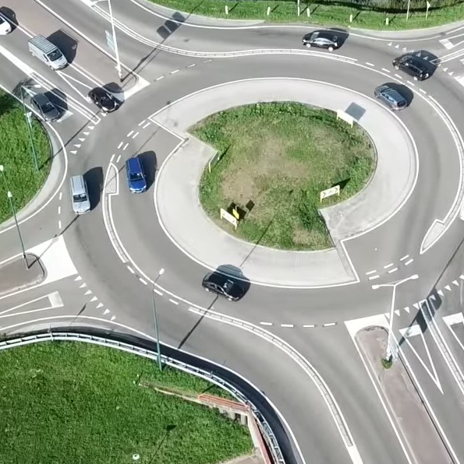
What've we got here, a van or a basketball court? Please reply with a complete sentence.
The one in the frame is a van.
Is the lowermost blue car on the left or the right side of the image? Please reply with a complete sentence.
The lowermost blue car is on the left side of the image.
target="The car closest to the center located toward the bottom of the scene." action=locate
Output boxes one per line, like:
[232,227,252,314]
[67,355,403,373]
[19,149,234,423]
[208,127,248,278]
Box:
[198,274,244,305]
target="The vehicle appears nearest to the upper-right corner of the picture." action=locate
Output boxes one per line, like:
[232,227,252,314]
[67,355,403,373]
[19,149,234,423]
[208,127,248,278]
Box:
[391,59,430,82]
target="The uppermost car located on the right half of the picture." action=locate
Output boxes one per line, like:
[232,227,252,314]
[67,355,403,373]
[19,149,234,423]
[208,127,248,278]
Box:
[303,35,339,53]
